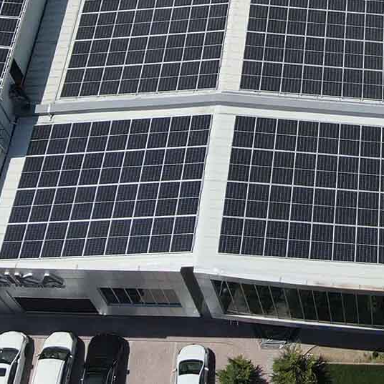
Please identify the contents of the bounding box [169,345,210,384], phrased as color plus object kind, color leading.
white car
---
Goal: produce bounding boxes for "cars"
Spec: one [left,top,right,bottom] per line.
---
[0,331,30,384]
[169,345,210,384]
[78,334,127,384]
[31,333,81,384]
